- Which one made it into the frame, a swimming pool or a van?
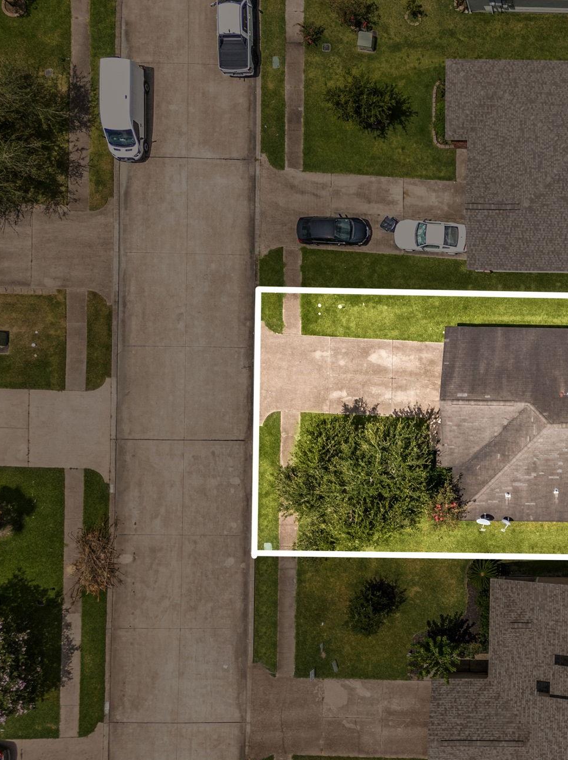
van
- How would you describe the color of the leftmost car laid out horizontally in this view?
black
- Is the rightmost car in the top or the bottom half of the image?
top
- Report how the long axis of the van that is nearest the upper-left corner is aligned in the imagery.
up and down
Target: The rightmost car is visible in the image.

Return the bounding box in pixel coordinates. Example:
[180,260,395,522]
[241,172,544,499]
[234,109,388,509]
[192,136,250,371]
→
[394,219,464,256]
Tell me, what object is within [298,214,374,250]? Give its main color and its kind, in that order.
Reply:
black car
